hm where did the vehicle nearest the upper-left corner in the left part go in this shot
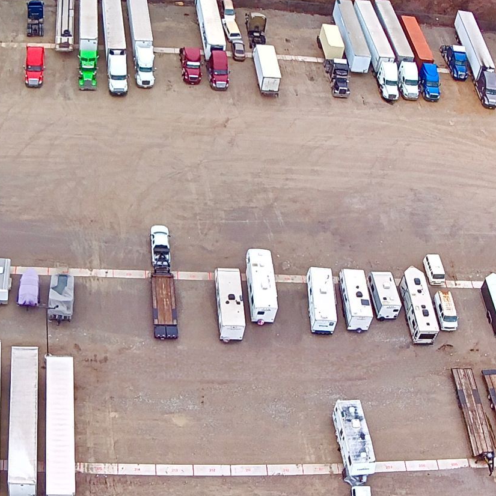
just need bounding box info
[25,0,45,33]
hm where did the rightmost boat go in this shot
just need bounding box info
[48,273,74,331]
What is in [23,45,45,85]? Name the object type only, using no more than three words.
truck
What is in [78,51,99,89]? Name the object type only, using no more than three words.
truck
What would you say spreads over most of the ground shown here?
paved ground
